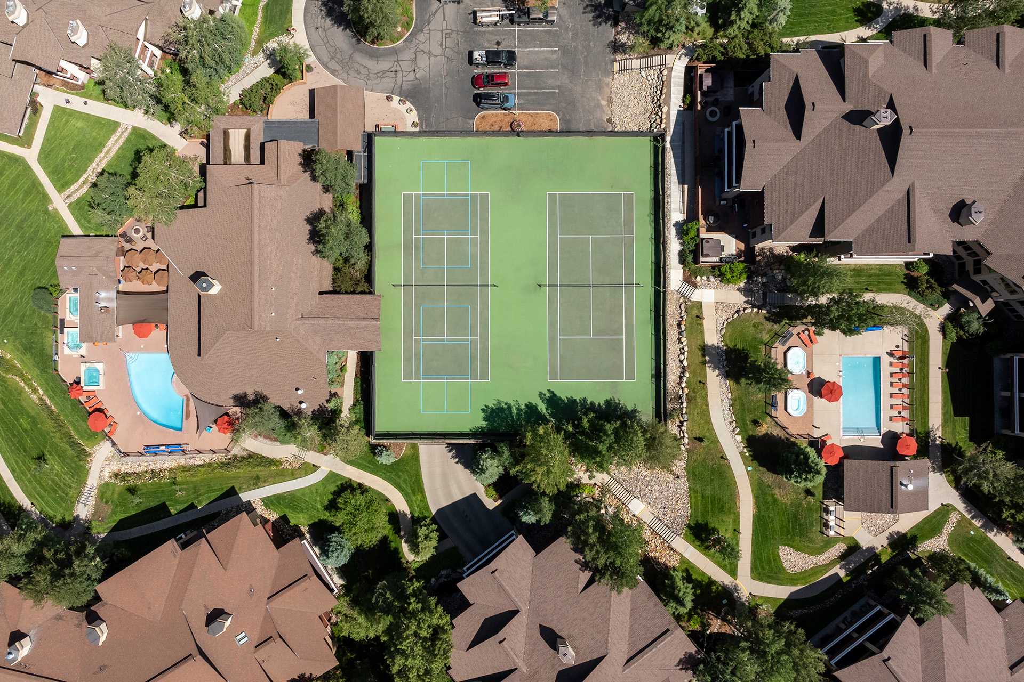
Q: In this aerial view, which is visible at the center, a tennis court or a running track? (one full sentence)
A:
Looking at the center, you will find a tennis court.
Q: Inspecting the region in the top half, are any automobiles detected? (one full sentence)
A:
Yes, I can see an automobile in the top half.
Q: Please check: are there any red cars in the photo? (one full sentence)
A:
Yes, you can see a red car in this photo.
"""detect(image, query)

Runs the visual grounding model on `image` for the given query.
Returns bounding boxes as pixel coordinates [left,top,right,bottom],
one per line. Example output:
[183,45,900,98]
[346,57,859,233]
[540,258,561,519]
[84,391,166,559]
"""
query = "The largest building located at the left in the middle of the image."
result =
[155,139,383,410]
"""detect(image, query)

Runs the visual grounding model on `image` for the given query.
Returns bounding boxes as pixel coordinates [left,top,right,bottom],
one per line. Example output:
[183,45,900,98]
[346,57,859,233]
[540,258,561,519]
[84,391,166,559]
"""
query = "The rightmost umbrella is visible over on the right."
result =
[895,434,917,455]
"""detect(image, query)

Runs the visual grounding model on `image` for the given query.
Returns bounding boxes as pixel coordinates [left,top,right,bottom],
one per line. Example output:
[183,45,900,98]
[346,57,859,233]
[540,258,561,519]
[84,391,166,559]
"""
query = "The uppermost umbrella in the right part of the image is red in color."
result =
[821,381,841,402]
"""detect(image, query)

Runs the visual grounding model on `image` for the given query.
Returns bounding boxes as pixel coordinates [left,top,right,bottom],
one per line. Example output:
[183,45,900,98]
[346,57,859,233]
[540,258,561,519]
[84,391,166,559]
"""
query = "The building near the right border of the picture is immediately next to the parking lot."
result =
[723,25,1024,316]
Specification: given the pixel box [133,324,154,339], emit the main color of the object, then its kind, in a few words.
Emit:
red umbrella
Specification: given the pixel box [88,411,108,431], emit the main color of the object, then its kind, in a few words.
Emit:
red umbrella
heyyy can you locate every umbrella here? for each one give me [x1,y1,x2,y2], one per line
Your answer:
[69,383,87,397]
[133,324,154,339]
[140,249,156,265]
[895,434,917,455]
[125,250,141,267]
[139,269,155,285]
[88,411,108,431]
[821,381,841,402]
[821,443,843,465]
[121,267,140,283]
[154,269,169,286]
[155,251,169,267]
